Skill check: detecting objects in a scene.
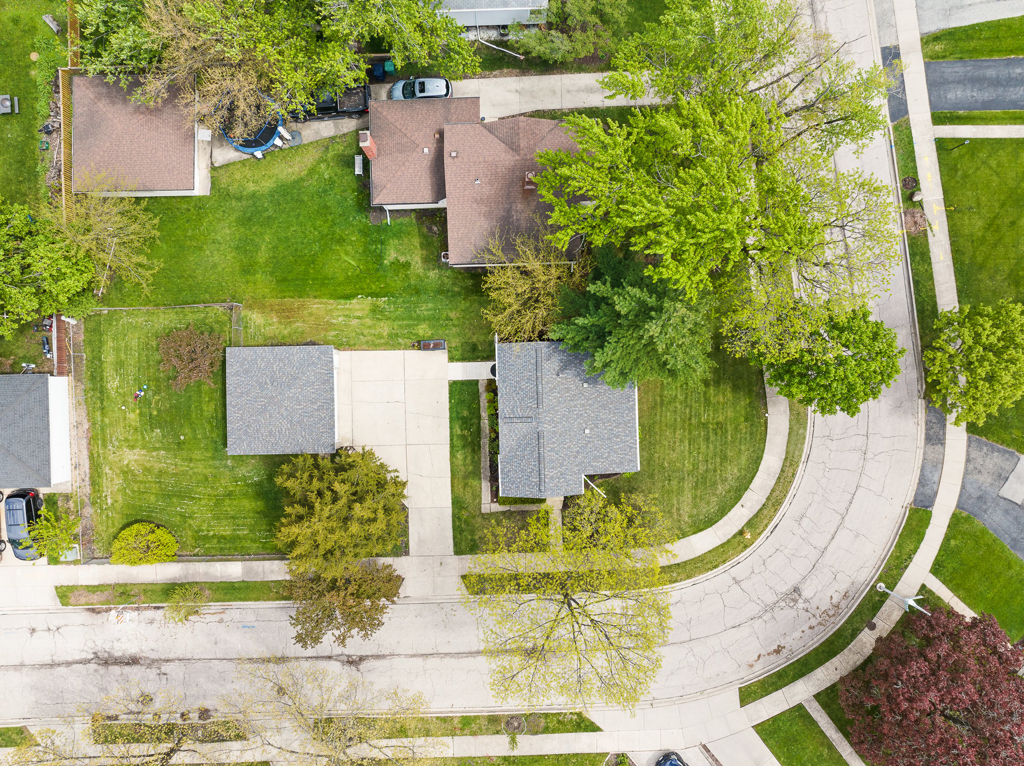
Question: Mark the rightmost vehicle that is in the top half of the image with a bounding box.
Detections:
[391,73,453,97]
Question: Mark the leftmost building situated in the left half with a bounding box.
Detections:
[0,373,70,488]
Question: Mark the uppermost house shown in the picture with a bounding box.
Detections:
[438,0,548,57]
